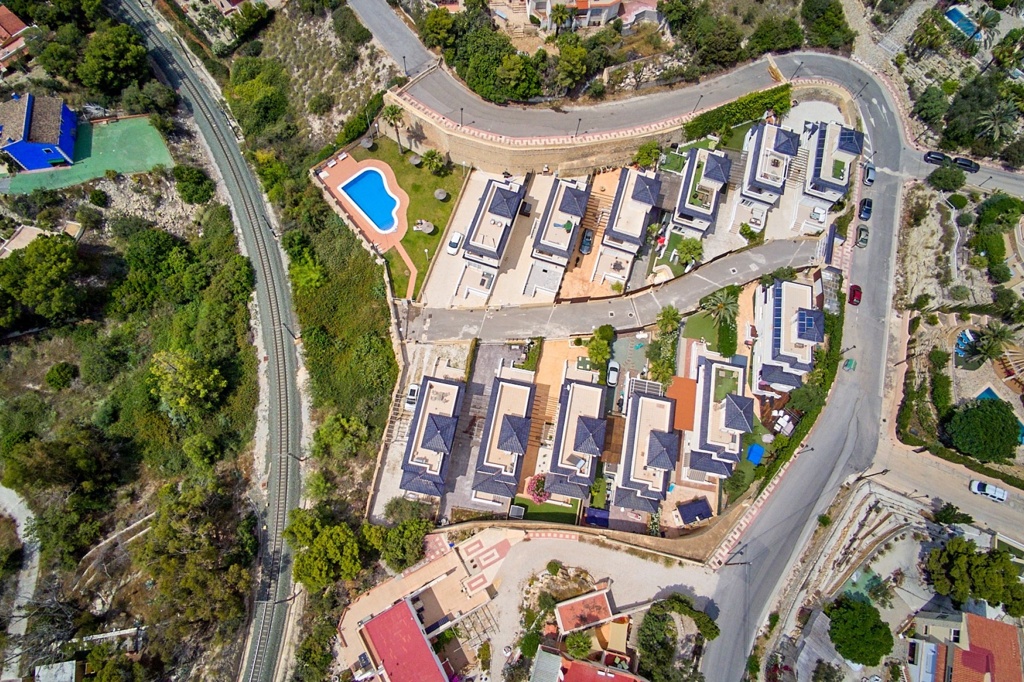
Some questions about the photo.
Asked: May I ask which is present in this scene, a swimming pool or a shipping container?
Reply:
swimming pool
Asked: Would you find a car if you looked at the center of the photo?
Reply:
Yes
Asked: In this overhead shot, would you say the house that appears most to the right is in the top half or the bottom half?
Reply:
bottom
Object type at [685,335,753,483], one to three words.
house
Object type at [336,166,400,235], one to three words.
swimming pool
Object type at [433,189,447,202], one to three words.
umbrella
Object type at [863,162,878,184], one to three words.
car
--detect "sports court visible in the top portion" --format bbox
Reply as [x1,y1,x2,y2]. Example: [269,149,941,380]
[0,115,176,194]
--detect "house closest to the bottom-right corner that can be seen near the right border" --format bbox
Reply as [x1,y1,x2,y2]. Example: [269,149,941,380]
[890,611,1024,682]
